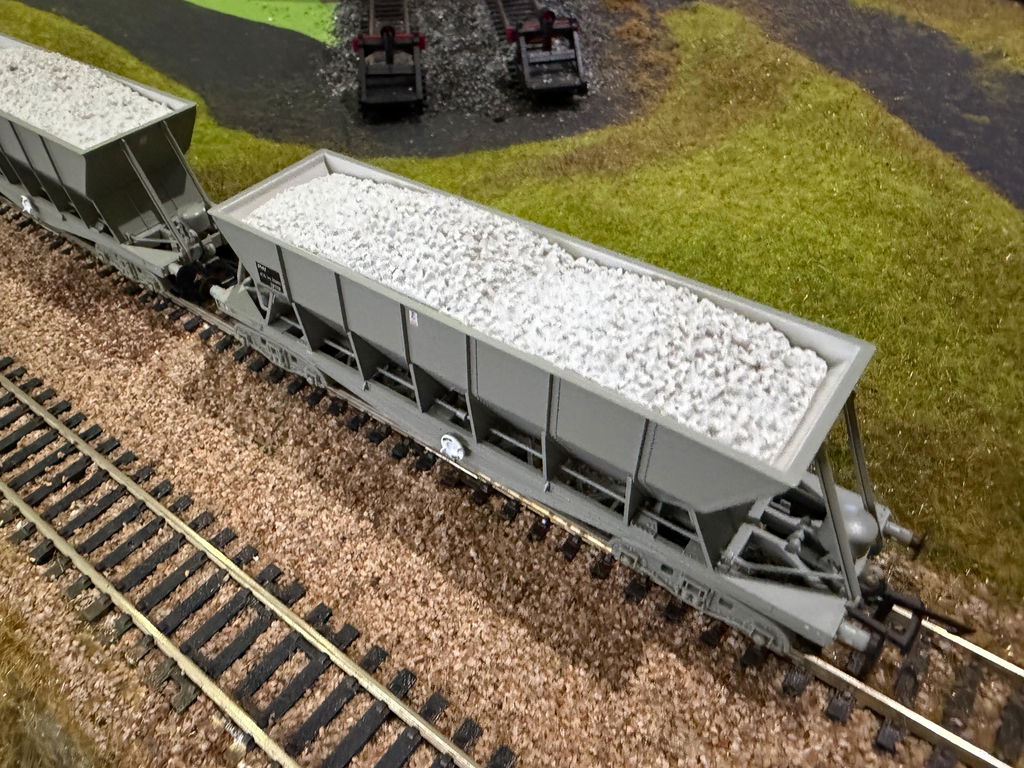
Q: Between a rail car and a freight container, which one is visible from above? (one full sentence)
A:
Of the two, only a rail car appears.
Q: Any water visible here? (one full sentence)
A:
No, no water is visible.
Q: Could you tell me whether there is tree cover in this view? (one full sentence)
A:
No, the picture contains no tree cover.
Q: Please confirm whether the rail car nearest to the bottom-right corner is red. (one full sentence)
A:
No, the rail car nearest to the bottom-right corner is gray.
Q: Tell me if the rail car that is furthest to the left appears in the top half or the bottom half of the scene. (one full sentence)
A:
Seen from above, the rail car that is furthest to the left lies in the top half of the view.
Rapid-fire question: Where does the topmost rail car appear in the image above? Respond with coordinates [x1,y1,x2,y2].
[0,27,245,301]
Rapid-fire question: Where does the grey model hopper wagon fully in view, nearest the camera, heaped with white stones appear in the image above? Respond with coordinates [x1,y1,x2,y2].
[207,151,980,669]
